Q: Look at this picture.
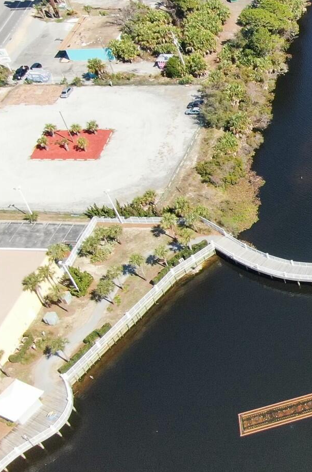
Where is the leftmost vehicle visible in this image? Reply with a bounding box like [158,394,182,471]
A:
[10,64,26,78]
